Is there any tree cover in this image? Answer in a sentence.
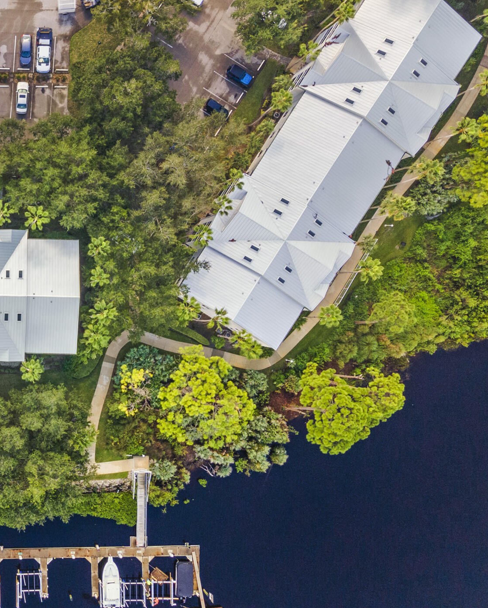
Yes, some tree cover is visible.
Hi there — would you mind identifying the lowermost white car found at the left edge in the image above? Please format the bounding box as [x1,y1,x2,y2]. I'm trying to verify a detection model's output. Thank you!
[15,82,30,115]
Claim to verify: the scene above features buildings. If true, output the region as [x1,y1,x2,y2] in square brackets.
[179,0,475,348]
[0,228,82,361]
